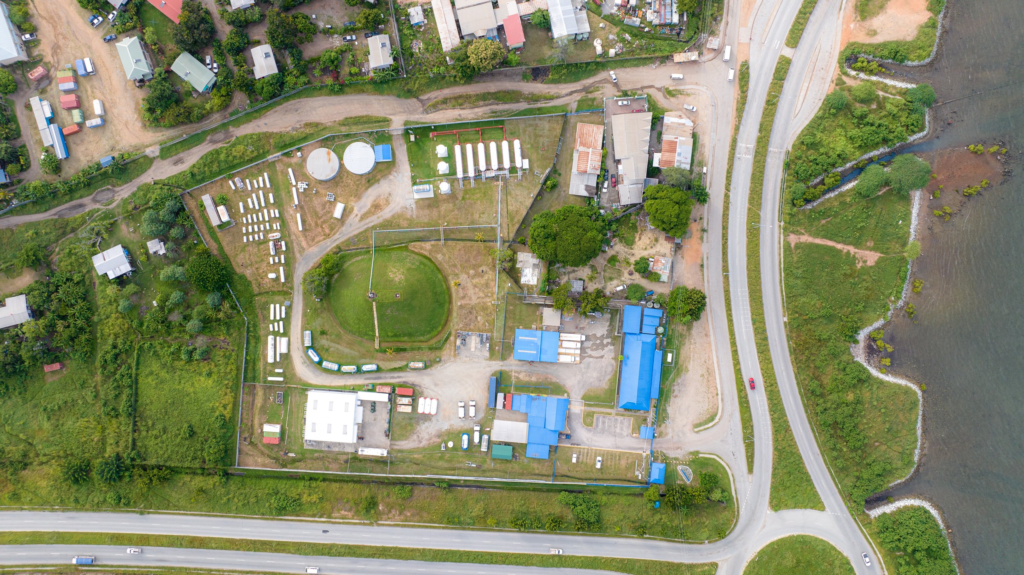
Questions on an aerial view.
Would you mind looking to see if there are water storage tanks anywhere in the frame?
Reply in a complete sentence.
Yes, a water storage tank can be made out from above.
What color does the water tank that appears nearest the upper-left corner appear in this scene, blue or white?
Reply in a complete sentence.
The water tank that appears nearest the upper-left corner is white.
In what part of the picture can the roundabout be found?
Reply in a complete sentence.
The roundabout is located in the bottom right region of the scene.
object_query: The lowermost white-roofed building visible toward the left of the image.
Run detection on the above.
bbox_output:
[304,388,389,443]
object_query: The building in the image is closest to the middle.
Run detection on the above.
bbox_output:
[517,252,539,285]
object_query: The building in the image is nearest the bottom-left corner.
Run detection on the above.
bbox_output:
[0,295,35,326]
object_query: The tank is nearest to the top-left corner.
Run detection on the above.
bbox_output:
[306,147,341,181]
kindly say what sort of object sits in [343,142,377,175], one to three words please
water tank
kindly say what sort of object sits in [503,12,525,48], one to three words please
house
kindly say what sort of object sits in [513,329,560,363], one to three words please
shed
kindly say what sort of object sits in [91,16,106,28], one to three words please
vehicle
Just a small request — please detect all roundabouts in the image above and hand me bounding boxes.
[715,508,881,575]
